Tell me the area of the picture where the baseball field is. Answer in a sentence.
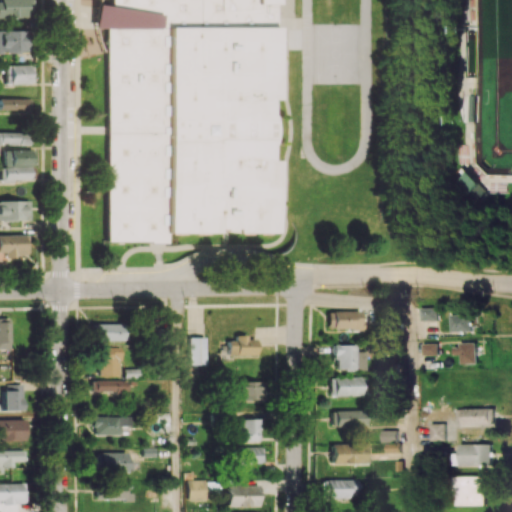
Look in the top right portion of the view to spot the baseball field.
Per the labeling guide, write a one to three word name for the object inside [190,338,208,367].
building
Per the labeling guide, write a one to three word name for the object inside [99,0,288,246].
building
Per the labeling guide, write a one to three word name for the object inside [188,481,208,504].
house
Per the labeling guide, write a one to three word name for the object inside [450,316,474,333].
house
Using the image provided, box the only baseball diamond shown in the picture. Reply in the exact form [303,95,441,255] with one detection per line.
[477,0,512,174]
